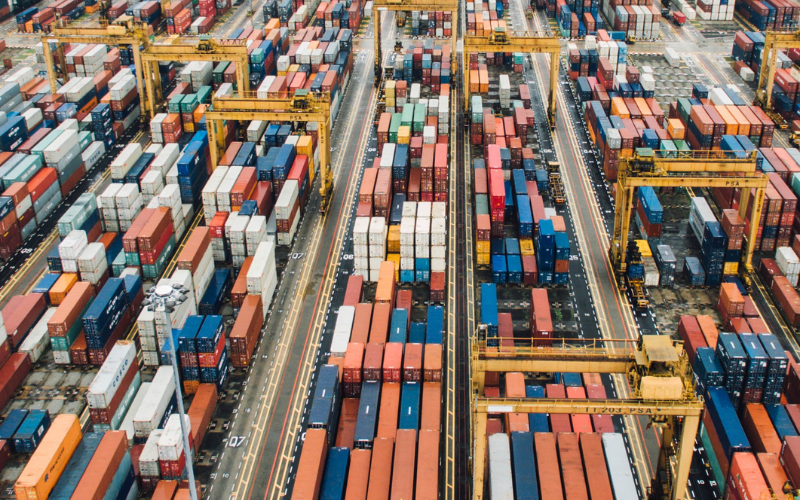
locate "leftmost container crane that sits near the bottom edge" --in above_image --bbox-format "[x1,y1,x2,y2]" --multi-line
[465,334,705,500]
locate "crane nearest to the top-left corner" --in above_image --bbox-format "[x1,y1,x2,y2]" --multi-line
[42,20,160,122]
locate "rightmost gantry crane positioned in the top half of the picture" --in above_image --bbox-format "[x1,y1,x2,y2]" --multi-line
[749,25,800,115]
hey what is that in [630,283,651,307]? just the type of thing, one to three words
vehicle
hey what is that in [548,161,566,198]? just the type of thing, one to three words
vehicle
